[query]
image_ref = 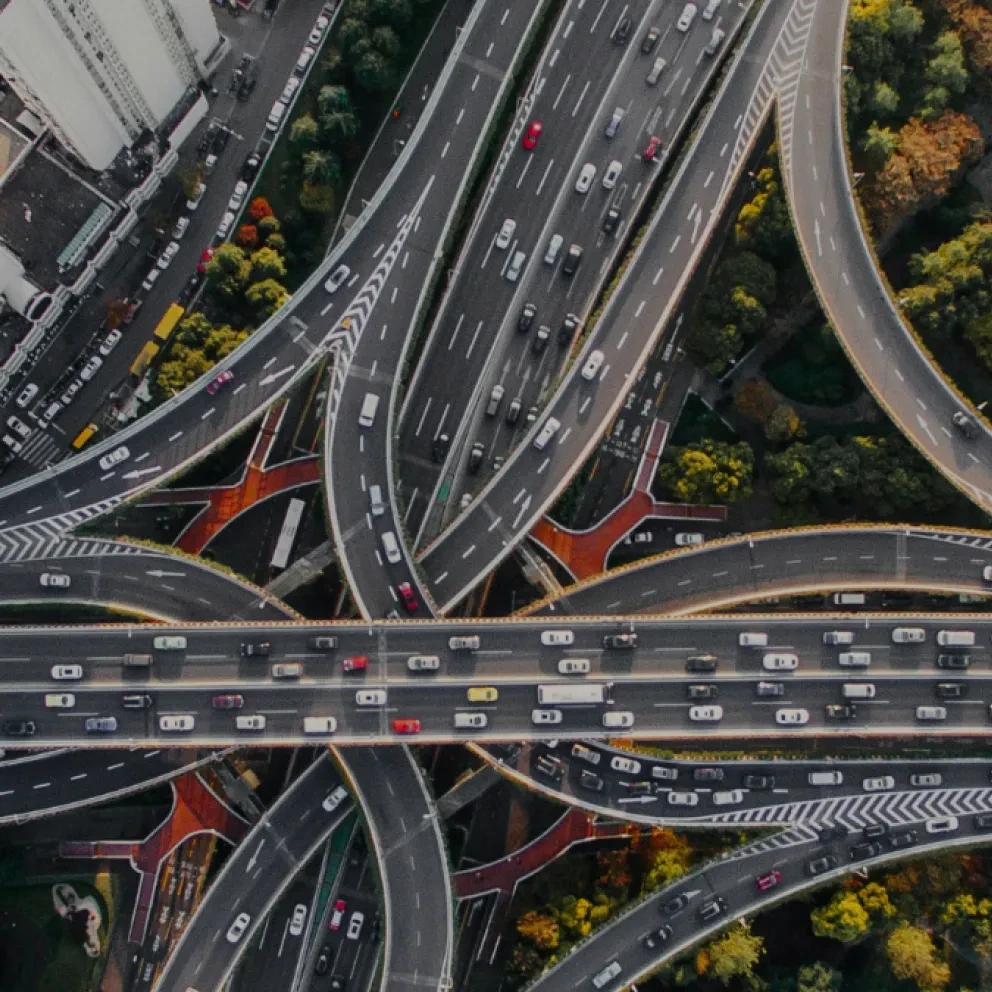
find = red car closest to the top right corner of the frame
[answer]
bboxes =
[643,137,661,161]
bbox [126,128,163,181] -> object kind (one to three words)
shed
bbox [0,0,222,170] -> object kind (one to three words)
building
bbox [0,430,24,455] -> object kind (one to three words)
car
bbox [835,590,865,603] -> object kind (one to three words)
vehicle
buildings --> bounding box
[0,0,222,170]
[0,131,126,358]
